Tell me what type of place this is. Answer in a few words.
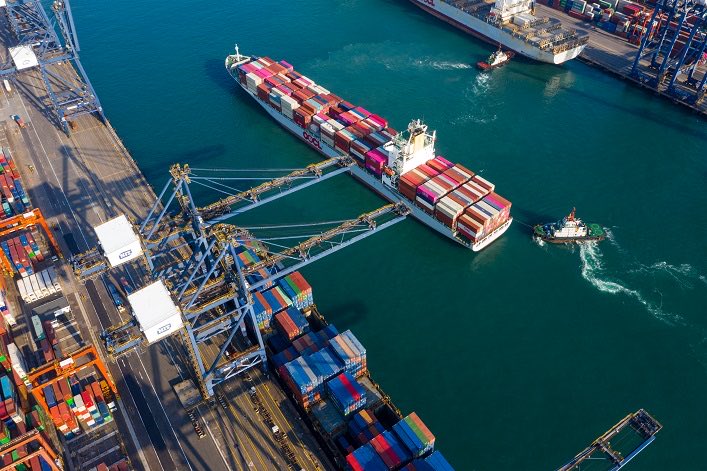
port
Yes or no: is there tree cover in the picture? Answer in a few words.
No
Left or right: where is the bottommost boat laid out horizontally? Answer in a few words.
right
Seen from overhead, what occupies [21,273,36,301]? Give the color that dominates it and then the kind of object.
white vehicle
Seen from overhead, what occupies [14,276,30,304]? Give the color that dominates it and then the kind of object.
white vehicle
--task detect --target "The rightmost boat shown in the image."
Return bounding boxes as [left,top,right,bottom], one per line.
[532,214,609,248]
